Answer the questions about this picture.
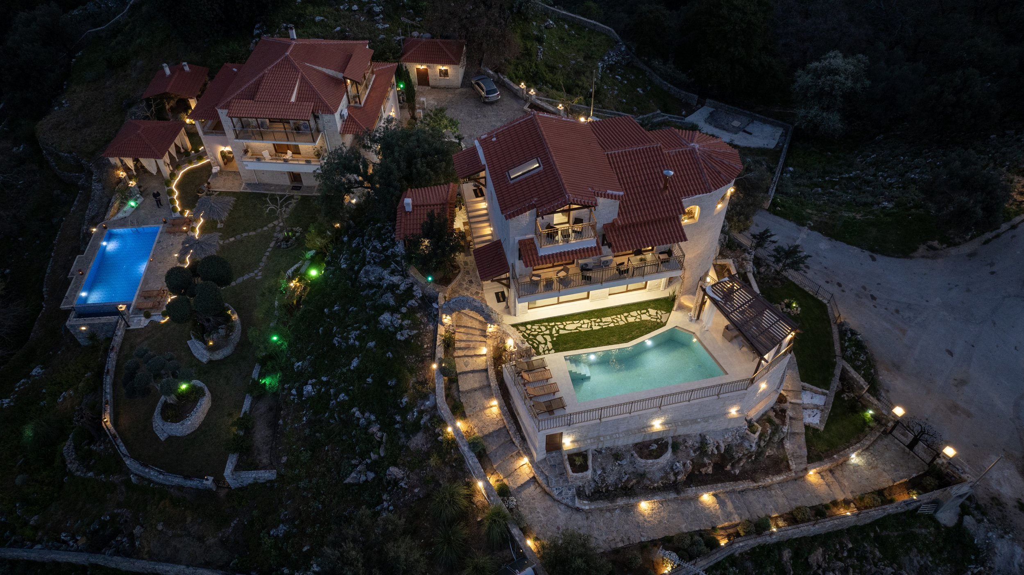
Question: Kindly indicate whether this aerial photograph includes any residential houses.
Yes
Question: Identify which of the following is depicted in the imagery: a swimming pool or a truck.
swimming pool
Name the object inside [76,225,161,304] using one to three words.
swimming pool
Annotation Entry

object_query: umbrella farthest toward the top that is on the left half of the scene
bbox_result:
[194,199,236,227]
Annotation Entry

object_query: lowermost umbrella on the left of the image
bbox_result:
[176,236,220,265]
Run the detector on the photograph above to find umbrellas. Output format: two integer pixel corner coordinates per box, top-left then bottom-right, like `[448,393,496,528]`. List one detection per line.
[194,199,236,227]
[176,236,220,265]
